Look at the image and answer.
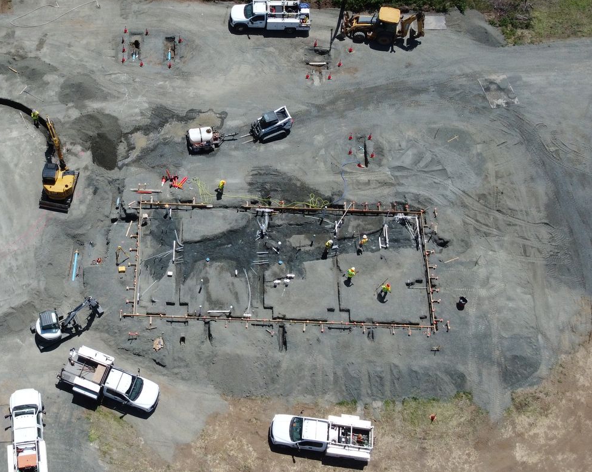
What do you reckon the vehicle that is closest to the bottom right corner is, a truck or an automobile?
truck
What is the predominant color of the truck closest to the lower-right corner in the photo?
white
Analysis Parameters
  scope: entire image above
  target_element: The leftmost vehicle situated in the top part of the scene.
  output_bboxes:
[34,117,79,217]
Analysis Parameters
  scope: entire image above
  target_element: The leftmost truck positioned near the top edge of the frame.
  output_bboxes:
[230,0,312,34]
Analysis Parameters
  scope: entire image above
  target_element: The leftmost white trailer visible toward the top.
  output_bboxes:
[185,128,238,155]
